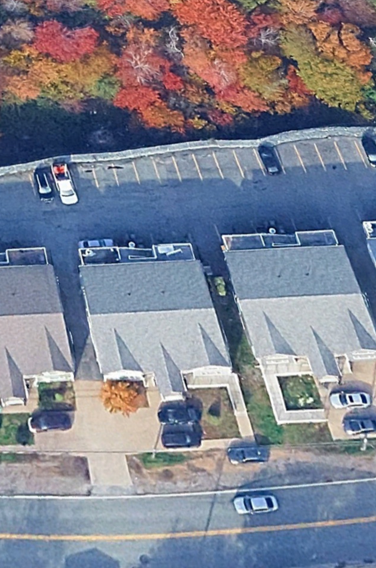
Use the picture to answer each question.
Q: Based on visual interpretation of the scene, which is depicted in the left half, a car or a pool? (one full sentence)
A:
It is a car that can be seen in the left half.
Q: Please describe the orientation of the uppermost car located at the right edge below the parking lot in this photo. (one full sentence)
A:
Seen from above, the uppermost car located at the right edge below the parking lot lies from side to side.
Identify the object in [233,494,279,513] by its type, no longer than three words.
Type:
car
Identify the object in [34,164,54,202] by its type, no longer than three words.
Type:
car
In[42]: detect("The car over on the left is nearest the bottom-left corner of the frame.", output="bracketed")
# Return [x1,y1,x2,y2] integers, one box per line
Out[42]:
[28,411,74,432]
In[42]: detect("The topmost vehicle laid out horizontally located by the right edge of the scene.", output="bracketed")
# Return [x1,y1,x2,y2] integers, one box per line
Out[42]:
[329,389,370,409]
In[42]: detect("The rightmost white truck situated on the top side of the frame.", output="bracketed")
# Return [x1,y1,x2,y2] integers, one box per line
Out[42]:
[51,160,76,206]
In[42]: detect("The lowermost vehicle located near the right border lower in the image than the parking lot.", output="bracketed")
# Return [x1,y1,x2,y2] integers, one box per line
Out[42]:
[341,416,376,437]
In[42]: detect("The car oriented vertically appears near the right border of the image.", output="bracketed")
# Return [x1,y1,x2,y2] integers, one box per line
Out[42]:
[359,132,376,169]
